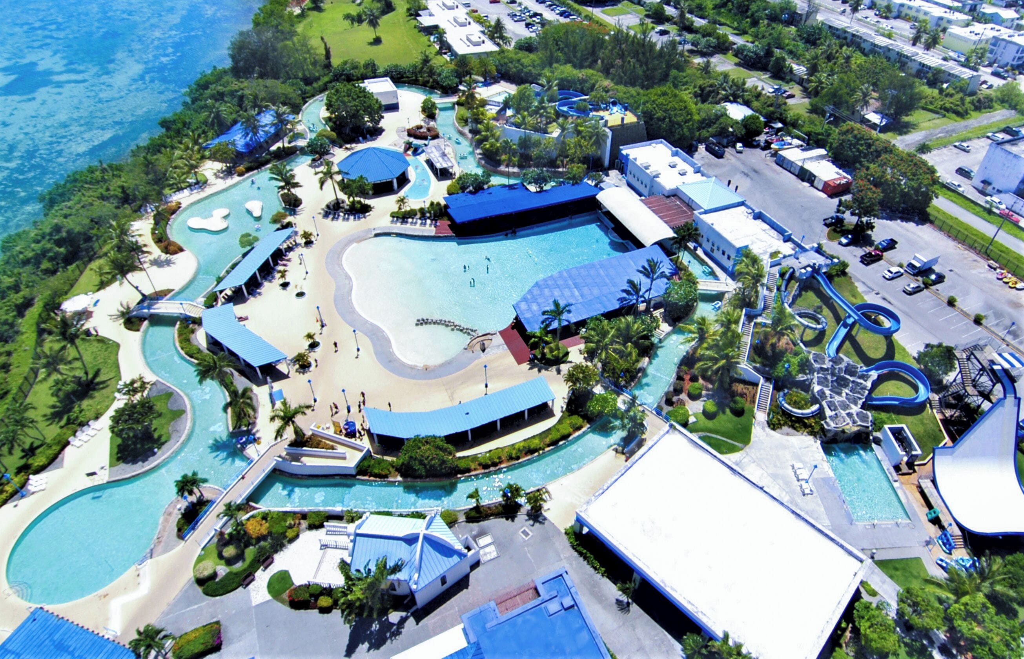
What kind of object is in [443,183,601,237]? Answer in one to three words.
building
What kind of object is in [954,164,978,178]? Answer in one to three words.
car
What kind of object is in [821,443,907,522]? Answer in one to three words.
swimming pool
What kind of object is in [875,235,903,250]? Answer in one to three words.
vehicle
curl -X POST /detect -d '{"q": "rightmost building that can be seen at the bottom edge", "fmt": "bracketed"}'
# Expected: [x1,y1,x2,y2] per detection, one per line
[562,428,871,659]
